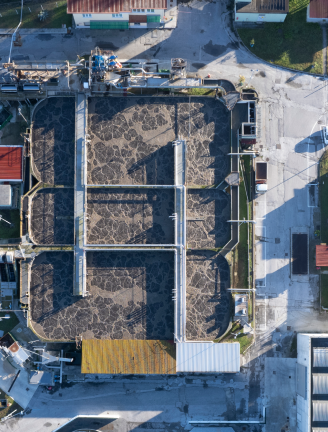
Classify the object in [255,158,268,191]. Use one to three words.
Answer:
vehicle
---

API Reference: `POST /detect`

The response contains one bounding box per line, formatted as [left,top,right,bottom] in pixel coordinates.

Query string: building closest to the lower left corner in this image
[29,370,55,384]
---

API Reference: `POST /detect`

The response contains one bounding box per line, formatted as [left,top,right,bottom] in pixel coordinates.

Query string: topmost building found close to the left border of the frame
[0,145,26,183]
